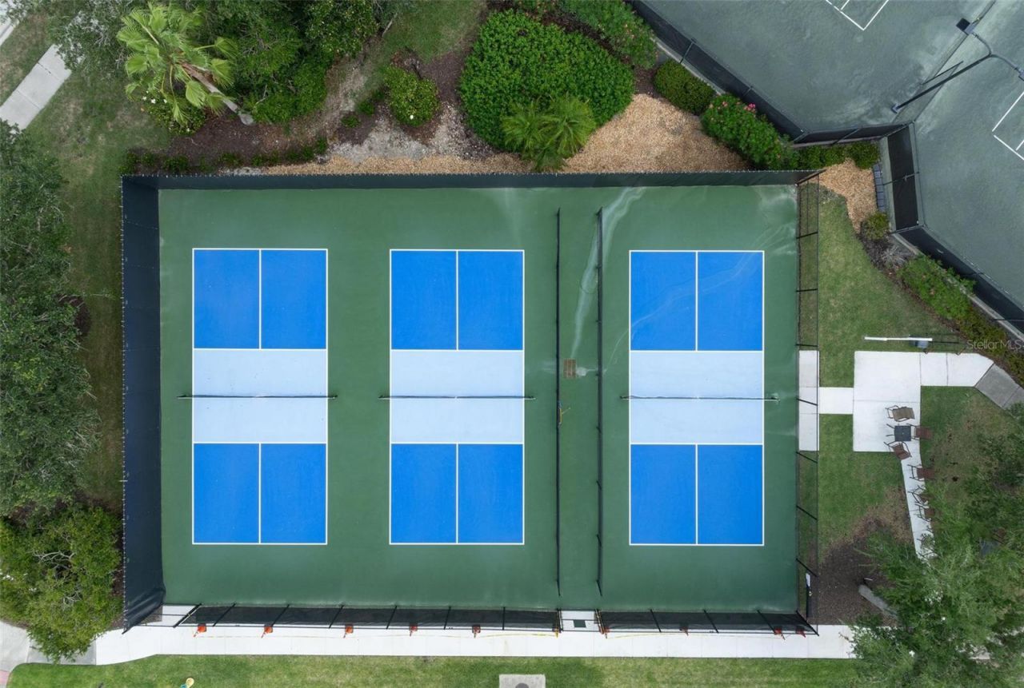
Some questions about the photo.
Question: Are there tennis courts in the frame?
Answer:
Yes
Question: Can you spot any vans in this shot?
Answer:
No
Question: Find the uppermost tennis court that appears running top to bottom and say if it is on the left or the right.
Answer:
right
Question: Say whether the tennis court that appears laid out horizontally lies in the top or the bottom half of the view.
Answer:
top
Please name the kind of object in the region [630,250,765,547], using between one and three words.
sports court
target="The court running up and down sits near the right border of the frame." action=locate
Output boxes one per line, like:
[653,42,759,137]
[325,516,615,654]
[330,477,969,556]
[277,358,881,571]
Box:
[880,0,1024,337]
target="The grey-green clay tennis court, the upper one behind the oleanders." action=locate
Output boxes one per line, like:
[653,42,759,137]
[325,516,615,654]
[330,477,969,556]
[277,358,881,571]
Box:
[607,0,991,146]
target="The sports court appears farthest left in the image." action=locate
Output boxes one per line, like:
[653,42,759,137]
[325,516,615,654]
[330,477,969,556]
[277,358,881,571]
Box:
[192,248,327,546]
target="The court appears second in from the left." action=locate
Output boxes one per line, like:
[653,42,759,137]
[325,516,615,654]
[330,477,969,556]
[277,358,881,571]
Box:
[389,249,525,546]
